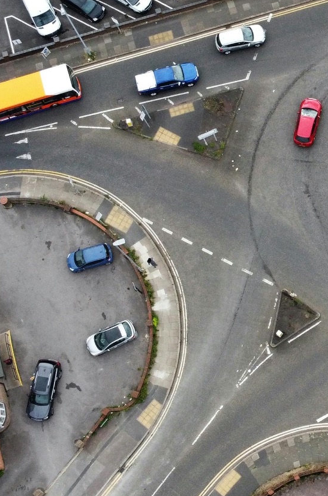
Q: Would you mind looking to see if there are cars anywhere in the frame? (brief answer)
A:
Yes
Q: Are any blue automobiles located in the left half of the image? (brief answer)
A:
Yes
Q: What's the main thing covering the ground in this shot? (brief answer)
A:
paved ground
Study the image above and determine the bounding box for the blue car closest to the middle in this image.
[64,241,113,270]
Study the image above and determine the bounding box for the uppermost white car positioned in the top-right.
[213,19,266,49]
